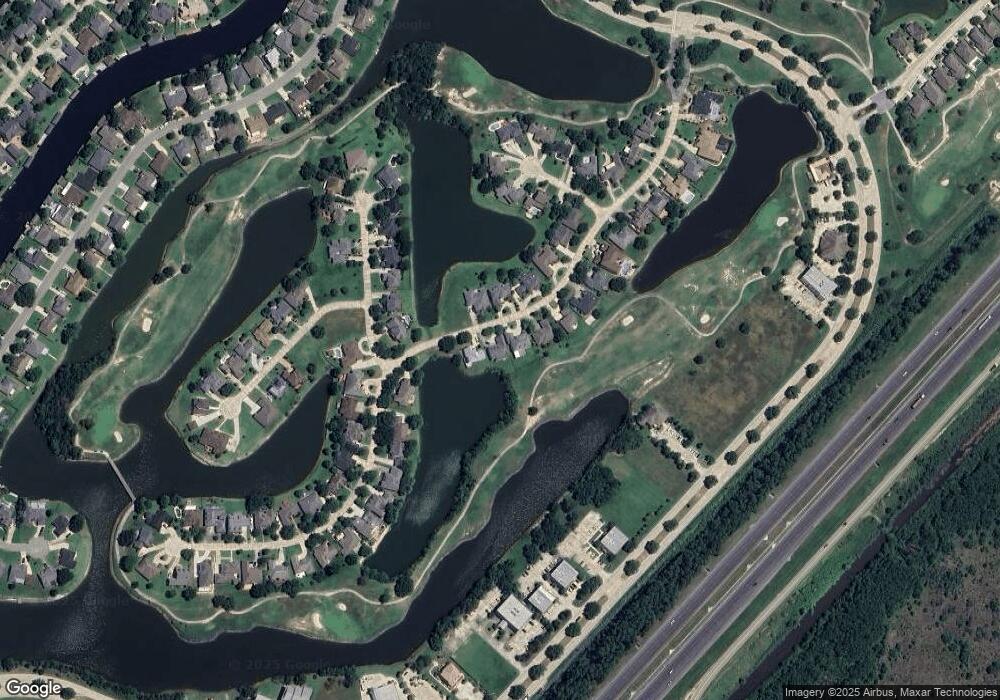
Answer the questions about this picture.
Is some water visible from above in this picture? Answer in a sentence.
Yes, some water is visible.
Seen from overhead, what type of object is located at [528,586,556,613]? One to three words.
building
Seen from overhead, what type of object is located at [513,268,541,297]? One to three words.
house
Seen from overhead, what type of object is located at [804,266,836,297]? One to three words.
building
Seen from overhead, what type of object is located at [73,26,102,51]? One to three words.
house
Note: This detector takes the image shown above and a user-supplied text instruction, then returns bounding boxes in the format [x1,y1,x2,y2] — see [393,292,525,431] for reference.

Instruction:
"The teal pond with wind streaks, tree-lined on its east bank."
[368,356,505,575]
